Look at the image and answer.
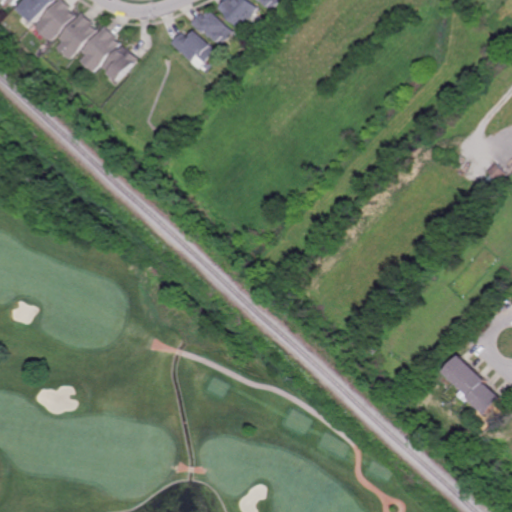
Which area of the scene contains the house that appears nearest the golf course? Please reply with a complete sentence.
The house that appears nearest the golf course sits in the bottom right section of the image.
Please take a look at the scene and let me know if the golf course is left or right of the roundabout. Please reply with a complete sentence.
The golf course is to the left of the roundabout.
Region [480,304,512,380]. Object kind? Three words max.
roundabout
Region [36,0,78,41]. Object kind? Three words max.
house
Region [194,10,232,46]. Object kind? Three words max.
house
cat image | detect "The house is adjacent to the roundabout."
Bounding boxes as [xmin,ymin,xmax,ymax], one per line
[438,353,500,415]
